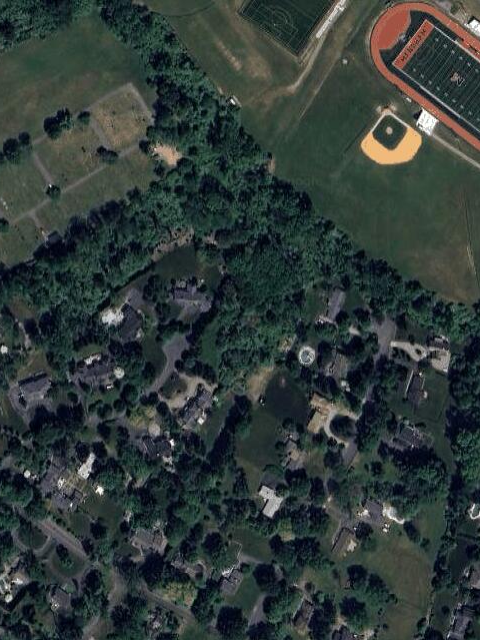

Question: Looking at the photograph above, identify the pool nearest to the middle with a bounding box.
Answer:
[300,347,315,363]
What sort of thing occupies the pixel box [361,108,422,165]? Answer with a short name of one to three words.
baseball field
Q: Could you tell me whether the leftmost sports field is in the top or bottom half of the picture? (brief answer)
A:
top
